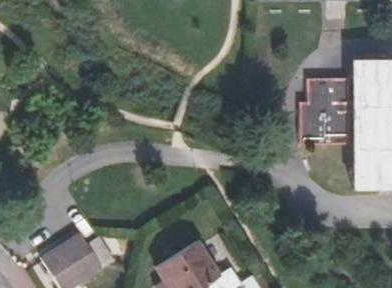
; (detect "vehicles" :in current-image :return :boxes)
[66,208,94,240]
[29,230,50,249]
